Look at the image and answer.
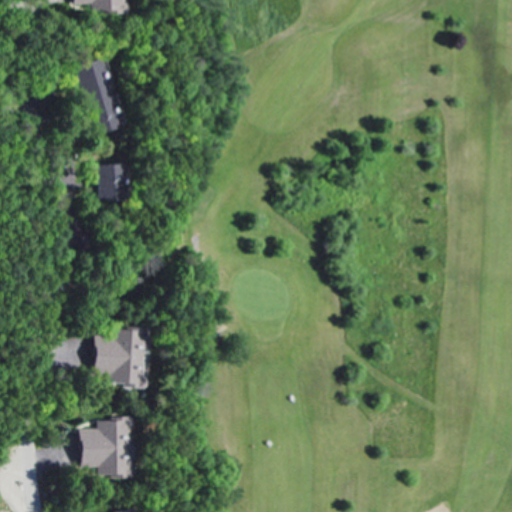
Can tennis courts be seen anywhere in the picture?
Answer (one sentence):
No, no tennis court is visible in the view.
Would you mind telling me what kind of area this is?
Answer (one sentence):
The area seen from above is a golf course.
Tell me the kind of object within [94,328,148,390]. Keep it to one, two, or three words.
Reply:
house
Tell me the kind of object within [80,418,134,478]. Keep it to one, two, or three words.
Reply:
house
